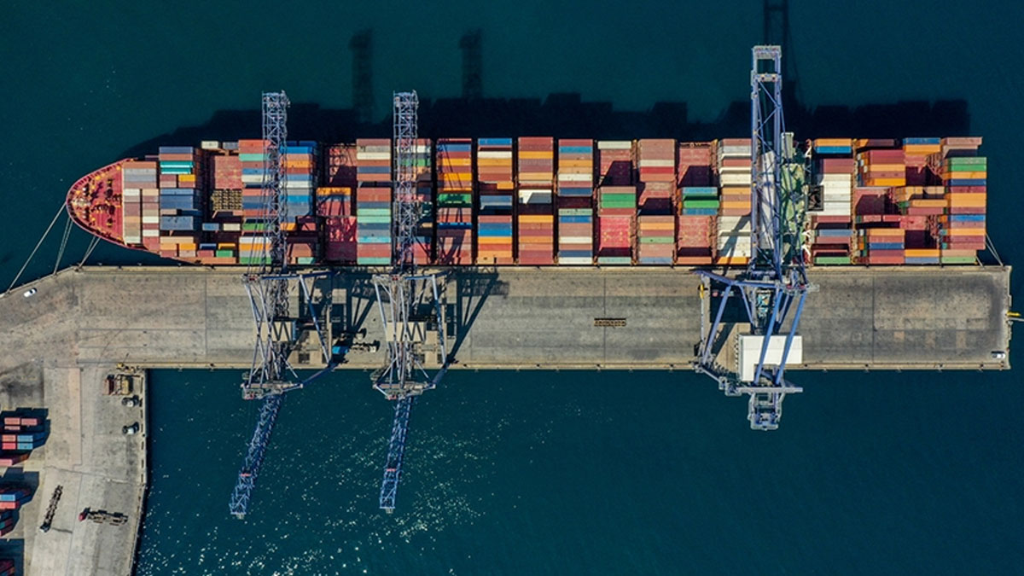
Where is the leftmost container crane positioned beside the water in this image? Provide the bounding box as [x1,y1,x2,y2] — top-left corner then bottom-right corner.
[227,90,342,516]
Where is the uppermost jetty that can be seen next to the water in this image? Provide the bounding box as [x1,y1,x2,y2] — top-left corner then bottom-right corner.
[79,264,1012,371]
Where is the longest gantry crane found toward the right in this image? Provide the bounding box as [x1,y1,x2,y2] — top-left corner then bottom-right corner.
[687,45,822,431]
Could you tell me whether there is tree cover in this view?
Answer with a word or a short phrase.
No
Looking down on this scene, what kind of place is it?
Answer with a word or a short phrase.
port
